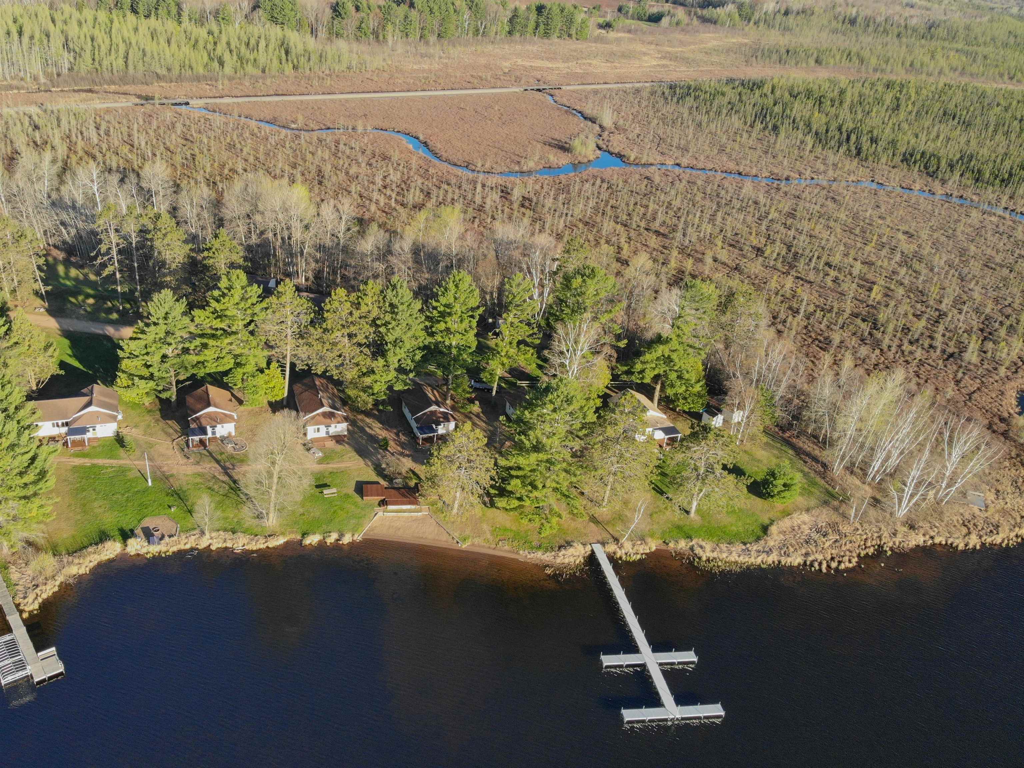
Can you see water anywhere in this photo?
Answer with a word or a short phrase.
Yes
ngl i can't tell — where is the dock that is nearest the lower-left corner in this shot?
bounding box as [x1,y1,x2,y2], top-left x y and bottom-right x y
[0,588,64,685]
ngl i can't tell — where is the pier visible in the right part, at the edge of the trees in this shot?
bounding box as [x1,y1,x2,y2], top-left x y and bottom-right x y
[592,544,728,721]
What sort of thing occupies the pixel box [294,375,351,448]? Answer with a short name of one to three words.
building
